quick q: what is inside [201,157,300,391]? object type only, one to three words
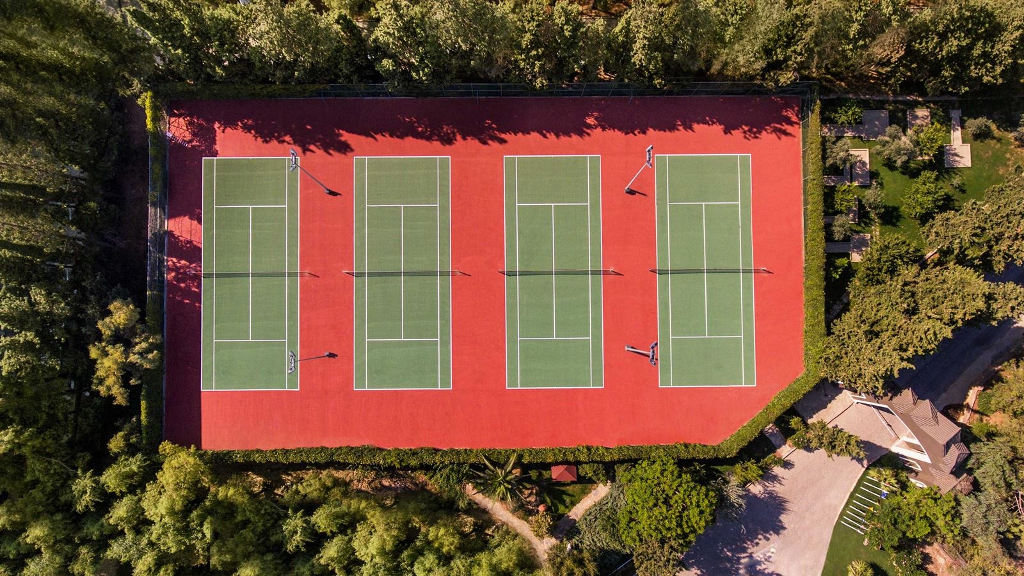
tennis court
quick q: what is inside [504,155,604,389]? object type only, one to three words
tennis court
